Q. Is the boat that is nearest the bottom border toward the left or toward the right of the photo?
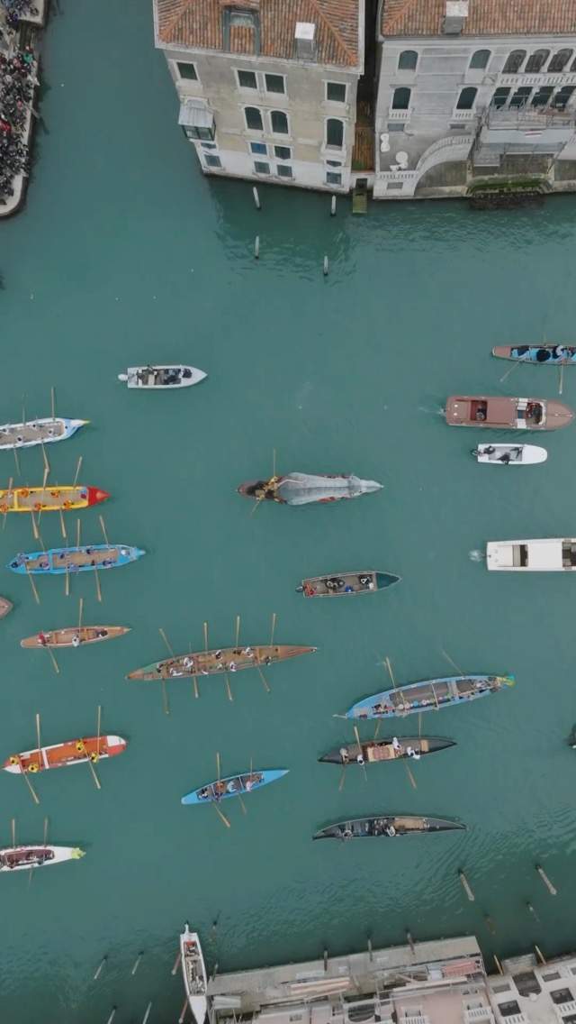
left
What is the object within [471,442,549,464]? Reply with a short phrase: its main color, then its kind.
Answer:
white boat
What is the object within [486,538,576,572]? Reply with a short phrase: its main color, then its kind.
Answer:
white boat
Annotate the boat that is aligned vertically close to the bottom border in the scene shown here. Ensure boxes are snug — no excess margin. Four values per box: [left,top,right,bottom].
[178,924,208,1024]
